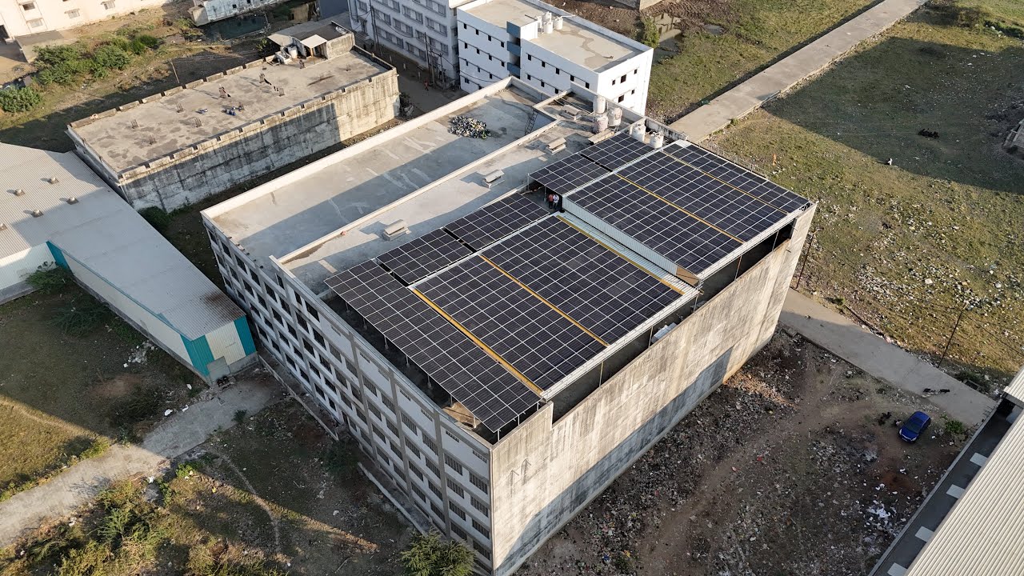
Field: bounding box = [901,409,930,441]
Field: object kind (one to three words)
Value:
car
